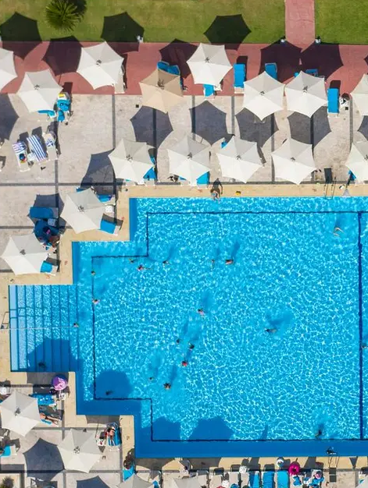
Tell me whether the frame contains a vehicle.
No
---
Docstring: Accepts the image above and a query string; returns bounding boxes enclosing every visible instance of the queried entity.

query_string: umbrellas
[187,43,233,86]
[108,137,155,182]
[170,135,213,182]
[79,45,125,91]
[114,473,155,488]
[243,74,285,120]
[346,141,368,184]
[0,390,42,436]
[18,69,65,114]
[0,49,19,90]
[218,138,263,182]
[352,74,368,114]
[57,428,104,473]
[2,232,49,276]
[271,138,316,186]
[142,67,186,112]
[60,188,107,233]
[283,69,328,115]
